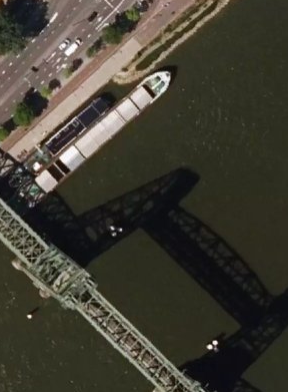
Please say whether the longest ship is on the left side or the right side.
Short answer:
left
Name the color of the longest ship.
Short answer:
white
